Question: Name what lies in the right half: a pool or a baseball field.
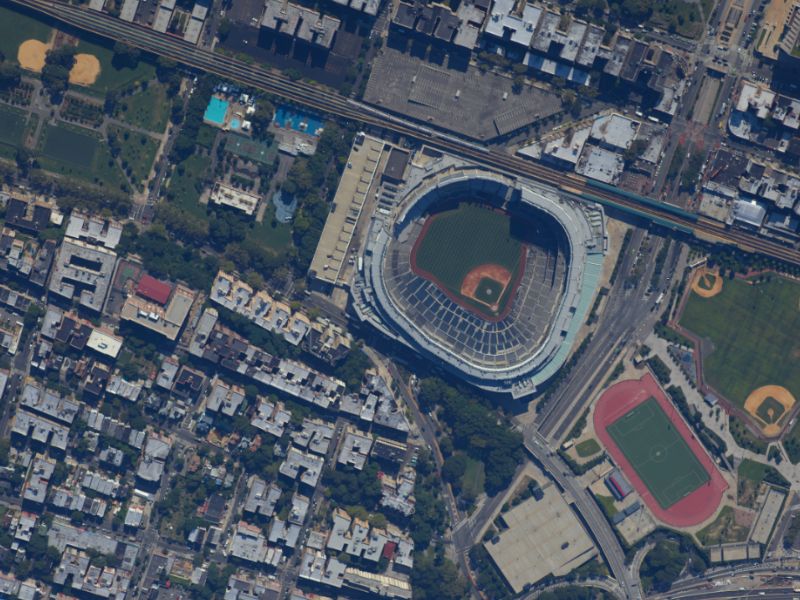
baseball field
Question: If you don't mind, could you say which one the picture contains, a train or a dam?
train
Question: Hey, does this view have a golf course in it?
No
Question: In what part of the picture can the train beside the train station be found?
top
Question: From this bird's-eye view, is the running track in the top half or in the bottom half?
bottom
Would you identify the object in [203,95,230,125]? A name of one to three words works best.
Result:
swimming pool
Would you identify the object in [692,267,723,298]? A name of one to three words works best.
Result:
baseball field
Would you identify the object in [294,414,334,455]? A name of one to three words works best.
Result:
building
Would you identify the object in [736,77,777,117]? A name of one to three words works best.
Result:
building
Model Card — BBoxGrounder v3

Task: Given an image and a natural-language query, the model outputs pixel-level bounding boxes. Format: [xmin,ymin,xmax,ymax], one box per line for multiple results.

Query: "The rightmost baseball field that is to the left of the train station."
[411,202,526,322]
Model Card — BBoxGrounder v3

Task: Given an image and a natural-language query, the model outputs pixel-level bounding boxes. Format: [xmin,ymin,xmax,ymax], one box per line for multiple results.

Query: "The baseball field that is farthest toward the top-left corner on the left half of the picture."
[18,39,48,73]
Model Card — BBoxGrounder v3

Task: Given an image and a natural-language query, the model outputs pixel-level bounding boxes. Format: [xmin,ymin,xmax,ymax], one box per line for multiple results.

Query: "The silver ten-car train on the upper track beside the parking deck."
[346,99,491,152]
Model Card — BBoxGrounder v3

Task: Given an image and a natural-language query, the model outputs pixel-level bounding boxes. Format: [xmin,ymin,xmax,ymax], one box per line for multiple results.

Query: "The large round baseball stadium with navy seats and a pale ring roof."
[350,144,604,398]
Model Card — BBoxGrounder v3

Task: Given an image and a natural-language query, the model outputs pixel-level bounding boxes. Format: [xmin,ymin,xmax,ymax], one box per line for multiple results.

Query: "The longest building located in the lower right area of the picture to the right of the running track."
[751,488,786,545]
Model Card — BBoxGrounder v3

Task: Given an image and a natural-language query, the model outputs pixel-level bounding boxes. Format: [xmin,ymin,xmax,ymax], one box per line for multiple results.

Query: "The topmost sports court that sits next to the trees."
[224,135,278,162]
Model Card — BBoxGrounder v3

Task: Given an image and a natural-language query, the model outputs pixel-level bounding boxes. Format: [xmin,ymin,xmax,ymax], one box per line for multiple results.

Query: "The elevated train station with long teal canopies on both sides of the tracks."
[559,166,759,252]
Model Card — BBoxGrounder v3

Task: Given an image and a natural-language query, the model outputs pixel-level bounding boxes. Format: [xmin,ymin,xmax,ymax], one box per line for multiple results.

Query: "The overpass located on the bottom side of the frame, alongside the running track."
[513,427,630,600]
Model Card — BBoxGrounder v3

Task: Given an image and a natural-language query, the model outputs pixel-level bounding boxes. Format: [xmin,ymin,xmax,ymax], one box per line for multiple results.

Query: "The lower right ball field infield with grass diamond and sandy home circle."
[744,385,797,438]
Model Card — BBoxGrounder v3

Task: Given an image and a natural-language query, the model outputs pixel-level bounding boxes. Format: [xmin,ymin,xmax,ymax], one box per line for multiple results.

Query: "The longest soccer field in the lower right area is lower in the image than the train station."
[608,397,710,509]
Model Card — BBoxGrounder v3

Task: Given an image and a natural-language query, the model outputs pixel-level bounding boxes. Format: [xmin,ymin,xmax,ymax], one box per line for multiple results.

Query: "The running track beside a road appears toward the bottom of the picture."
[594,373,729,518]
